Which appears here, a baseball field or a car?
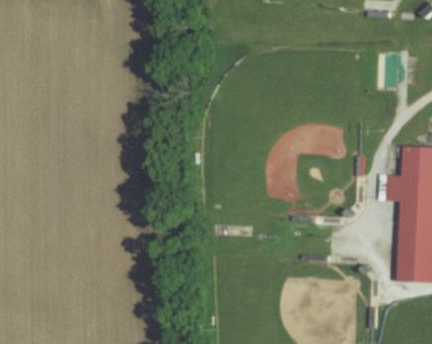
baseball field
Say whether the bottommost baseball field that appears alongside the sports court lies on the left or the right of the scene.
right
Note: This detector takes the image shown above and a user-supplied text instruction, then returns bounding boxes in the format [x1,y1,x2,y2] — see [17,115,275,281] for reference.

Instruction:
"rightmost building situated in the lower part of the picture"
[378,147,432,282]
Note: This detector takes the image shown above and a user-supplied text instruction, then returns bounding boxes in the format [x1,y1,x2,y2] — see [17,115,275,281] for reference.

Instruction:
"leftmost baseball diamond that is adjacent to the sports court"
[202,47,366,220]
